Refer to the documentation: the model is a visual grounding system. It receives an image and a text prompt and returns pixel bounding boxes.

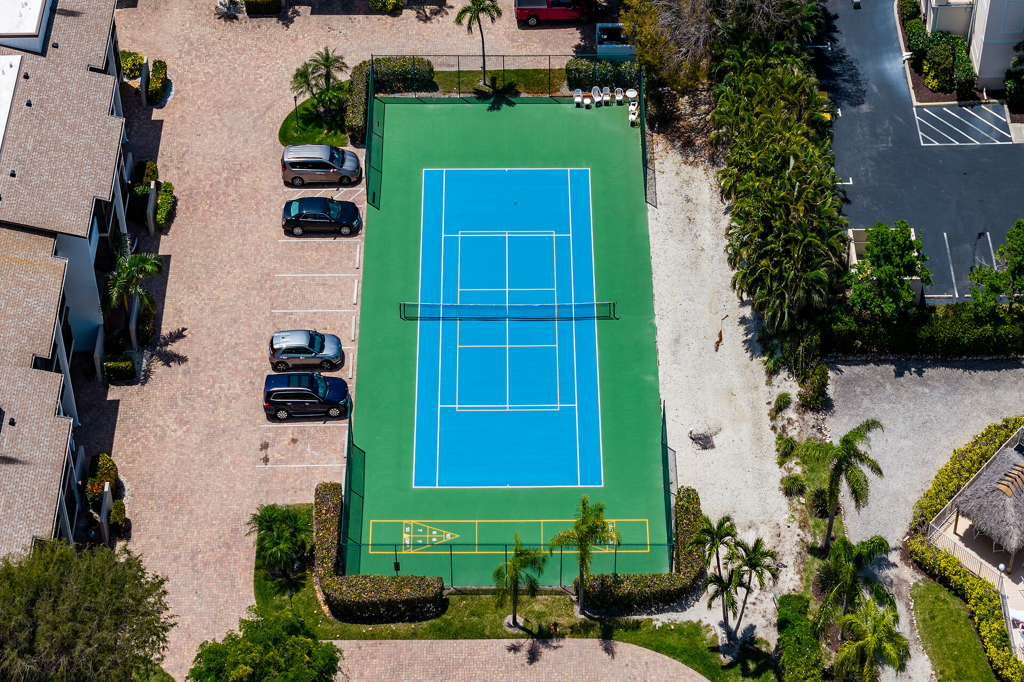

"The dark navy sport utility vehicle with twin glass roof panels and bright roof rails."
[264,371,349,421]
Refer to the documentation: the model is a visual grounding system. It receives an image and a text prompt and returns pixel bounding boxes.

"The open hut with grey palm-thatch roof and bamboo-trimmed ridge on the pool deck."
[949,450,1024,576]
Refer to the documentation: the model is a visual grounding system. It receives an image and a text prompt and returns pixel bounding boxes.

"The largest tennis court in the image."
[347,94,671,588]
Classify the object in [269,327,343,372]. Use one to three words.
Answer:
car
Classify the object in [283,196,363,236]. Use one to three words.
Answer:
car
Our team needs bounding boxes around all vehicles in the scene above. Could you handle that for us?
[283,196,363,236]
[514,0,597,28]
[264,371,349,421]
[269,327,343,372]
[282,141,362,187]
